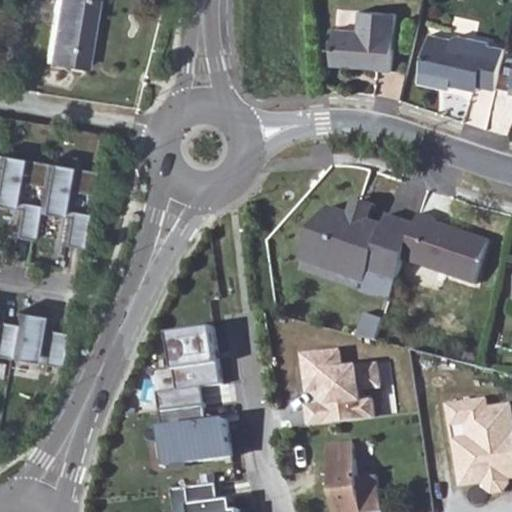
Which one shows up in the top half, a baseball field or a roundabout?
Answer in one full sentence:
Looking in the top half, you will find a roundabout.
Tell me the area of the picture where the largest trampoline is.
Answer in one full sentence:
You can find the largest trampoline in the bottom right area of the picture.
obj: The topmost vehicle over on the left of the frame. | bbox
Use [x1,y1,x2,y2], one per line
[160,152,174,176]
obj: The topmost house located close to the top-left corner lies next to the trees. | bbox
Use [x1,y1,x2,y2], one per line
[52,0,100,70]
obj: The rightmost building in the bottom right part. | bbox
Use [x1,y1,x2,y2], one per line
[442,396,512,494]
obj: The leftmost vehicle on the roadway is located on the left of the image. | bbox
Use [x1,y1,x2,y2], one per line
[94,388,108,412]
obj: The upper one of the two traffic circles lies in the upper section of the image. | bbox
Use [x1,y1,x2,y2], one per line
[147,82,281,215]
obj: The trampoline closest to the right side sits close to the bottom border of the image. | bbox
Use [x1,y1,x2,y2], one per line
[468,485,490,506]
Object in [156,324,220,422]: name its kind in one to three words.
house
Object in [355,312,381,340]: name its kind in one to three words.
shed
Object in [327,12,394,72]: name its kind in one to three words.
house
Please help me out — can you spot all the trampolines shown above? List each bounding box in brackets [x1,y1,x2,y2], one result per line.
[468,485,490,506]
[143,430,154,441]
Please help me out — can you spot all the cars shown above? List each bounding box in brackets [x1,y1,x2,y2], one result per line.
[160,152,174,176]
[502,66,512,88]
[288,391,312,408]
[94,388,108,412]
[6,296,16,317]
[295,445,306,468]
